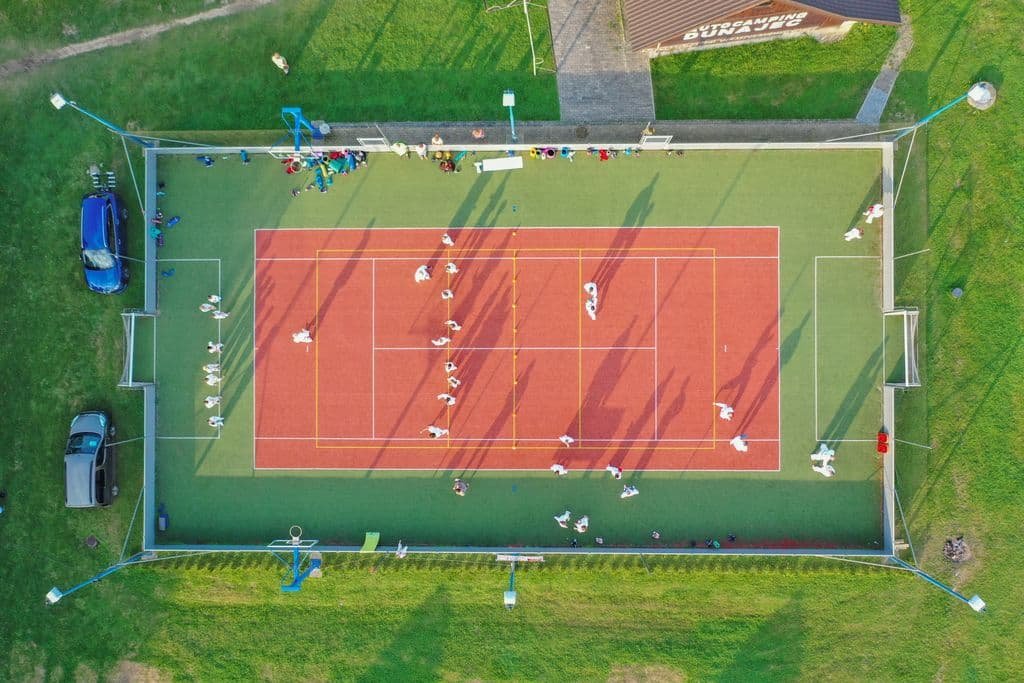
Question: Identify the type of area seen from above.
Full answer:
The area seen from above is a sports ground.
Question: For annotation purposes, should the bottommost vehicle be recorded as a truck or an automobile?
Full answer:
The bottommost vehicle in the image is an automobile.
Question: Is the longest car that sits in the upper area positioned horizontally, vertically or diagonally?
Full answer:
In this picture, the longest car that sits in the upper area is oriented vertically.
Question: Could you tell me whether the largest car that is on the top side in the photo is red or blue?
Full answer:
The largest car that is on the top side is blue.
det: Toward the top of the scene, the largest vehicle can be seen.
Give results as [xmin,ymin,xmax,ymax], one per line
[79,192,130,293]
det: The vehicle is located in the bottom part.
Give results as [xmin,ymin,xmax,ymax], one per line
[65,412,117,507]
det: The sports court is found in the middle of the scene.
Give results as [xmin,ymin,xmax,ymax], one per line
[128,148,913,550]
